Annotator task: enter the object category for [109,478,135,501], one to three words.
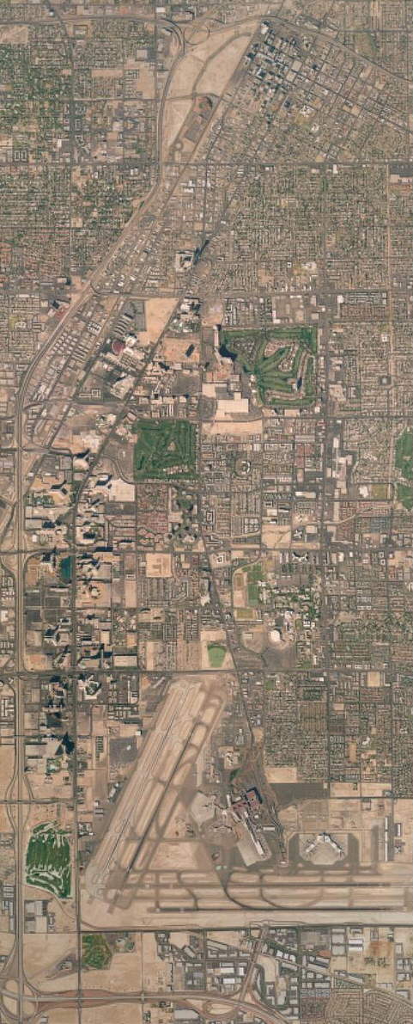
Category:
building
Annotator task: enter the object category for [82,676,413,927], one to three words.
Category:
airport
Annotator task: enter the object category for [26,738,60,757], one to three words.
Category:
building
